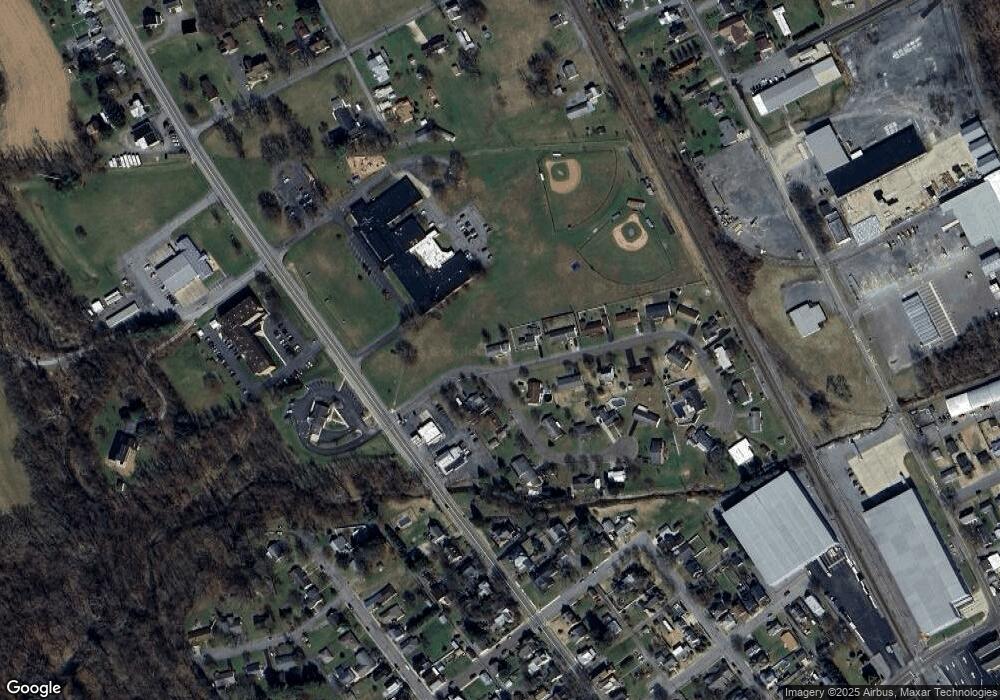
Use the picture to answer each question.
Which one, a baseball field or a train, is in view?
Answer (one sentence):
Visible in the photo is a baseball field.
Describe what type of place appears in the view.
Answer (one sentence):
It's a residential area.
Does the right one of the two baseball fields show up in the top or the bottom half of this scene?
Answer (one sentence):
The right one of the two baseball fields sits in the top half of the picture.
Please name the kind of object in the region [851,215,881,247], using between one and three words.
shed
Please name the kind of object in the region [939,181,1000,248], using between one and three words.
building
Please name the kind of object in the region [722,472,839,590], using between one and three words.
warehouse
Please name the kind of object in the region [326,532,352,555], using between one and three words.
house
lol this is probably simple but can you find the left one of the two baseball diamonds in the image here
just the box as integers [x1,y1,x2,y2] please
[545,159,581,193]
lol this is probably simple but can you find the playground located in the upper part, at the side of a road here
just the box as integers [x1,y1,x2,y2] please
[347,155,387,179]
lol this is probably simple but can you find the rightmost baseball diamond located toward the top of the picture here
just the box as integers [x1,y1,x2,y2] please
[613,213,648,250]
